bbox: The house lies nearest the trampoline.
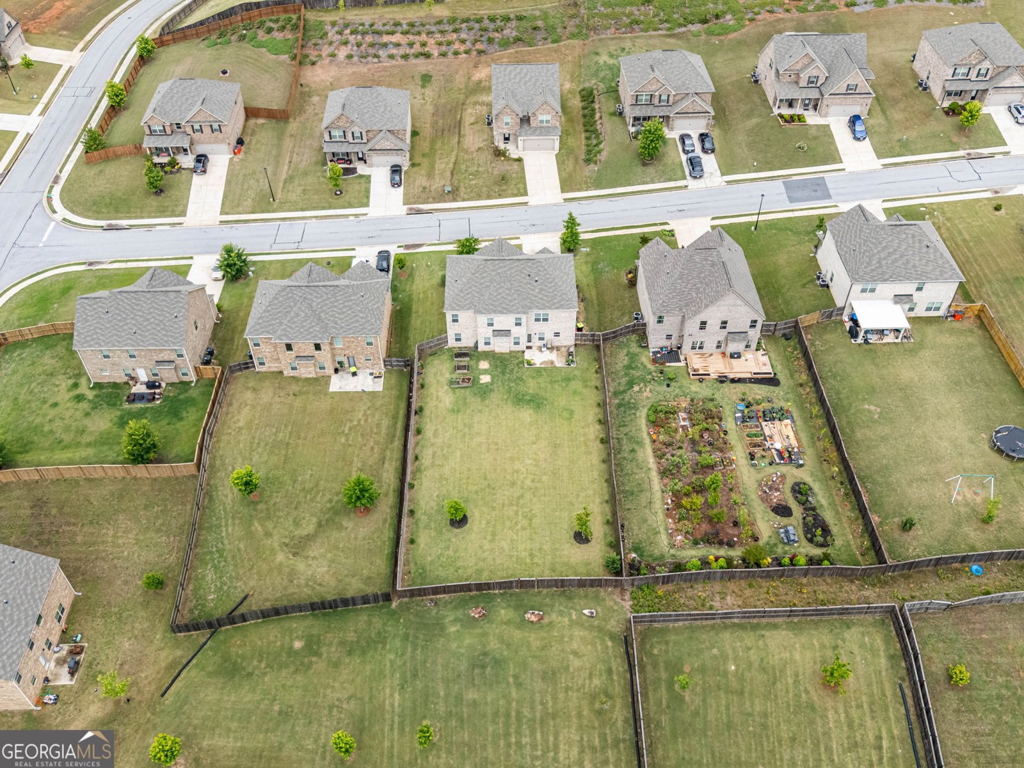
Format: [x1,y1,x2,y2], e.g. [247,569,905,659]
[812,202,966,316]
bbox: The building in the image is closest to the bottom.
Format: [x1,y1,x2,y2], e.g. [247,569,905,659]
[0,550,82,707]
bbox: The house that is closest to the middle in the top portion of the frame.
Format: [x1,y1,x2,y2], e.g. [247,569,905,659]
[444,237,578,350]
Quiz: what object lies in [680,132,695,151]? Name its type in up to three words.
car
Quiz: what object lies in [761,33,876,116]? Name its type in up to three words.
house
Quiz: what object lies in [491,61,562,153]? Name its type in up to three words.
house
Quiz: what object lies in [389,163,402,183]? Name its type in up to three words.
vehicle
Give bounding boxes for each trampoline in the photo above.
[992,428,1024,462]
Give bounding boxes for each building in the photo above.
[491,61,562,153]
[923,26,1024,104]
[624,51,716,131]
[761,33,876,116]
[634,224,766,350]
[0,550,82,707]
[812,202,966,316]
[322,86,414,168]
[444,237,578,350]
[0,8,26,58]
[72,265,225,385]
[141,80,249,161]
[244,259,392,376]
